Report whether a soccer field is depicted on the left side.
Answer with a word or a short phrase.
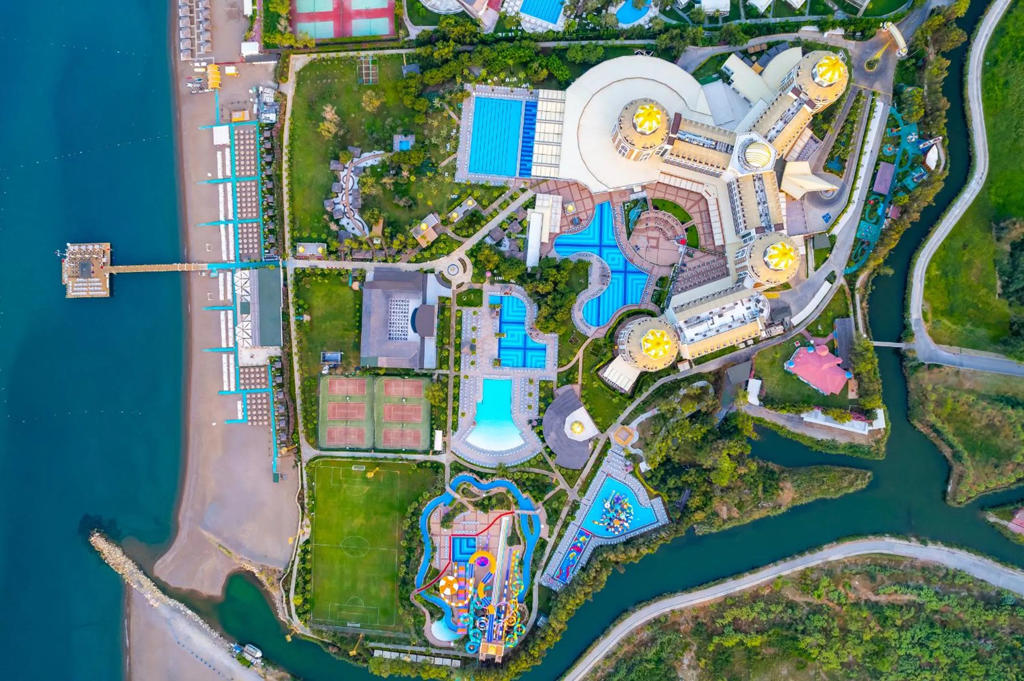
Yes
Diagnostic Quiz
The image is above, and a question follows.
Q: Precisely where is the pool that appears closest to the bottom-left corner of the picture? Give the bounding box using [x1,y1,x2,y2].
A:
[431,617,464,642]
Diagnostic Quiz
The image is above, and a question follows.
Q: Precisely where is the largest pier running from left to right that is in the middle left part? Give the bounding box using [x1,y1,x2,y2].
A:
[62,242,208,298]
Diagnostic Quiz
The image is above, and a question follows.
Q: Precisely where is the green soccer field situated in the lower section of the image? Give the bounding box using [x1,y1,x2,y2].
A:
[310,464,406,629]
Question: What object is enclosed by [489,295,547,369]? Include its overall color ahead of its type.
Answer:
blue swimming pool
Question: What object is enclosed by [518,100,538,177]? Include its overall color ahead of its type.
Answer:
blue swimming pool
